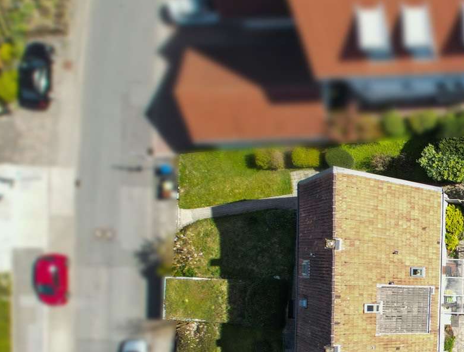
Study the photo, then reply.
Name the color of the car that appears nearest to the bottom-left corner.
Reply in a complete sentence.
From above, the car that appears nearest to the bottom-left corner appears red.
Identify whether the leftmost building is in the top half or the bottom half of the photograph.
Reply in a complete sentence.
You can find the leftmost building in the bottom half.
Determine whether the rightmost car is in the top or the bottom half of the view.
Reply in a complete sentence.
You can find the rightmost car in the top half.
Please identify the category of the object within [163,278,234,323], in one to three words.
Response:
building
